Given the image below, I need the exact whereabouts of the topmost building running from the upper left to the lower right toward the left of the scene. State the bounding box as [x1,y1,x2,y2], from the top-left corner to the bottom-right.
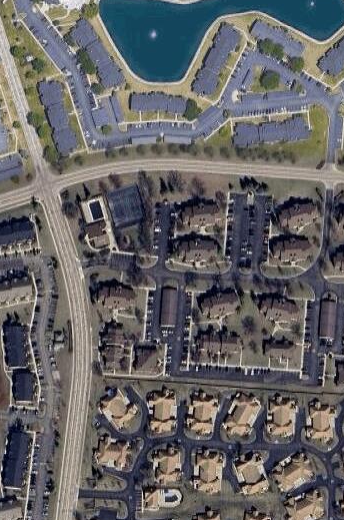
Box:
[66,20,125,91]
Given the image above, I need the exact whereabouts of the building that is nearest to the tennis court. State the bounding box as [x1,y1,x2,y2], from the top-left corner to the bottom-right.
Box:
[84,228,108,249]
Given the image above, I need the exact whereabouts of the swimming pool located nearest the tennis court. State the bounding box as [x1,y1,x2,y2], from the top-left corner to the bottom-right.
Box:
[83,195,108,224]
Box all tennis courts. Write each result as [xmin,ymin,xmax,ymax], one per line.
[108,187,145,227]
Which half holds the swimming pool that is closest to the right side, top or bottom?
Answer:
bottom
